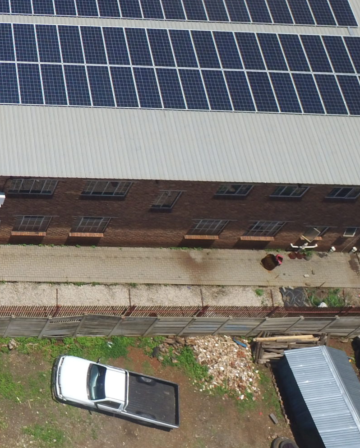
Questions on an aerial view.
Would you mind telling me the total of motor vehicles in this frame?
1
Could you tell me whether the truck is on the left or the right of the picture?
left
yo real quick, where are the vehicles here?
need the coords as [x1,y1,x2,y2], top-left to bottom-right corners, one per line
[45,359,190,441]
